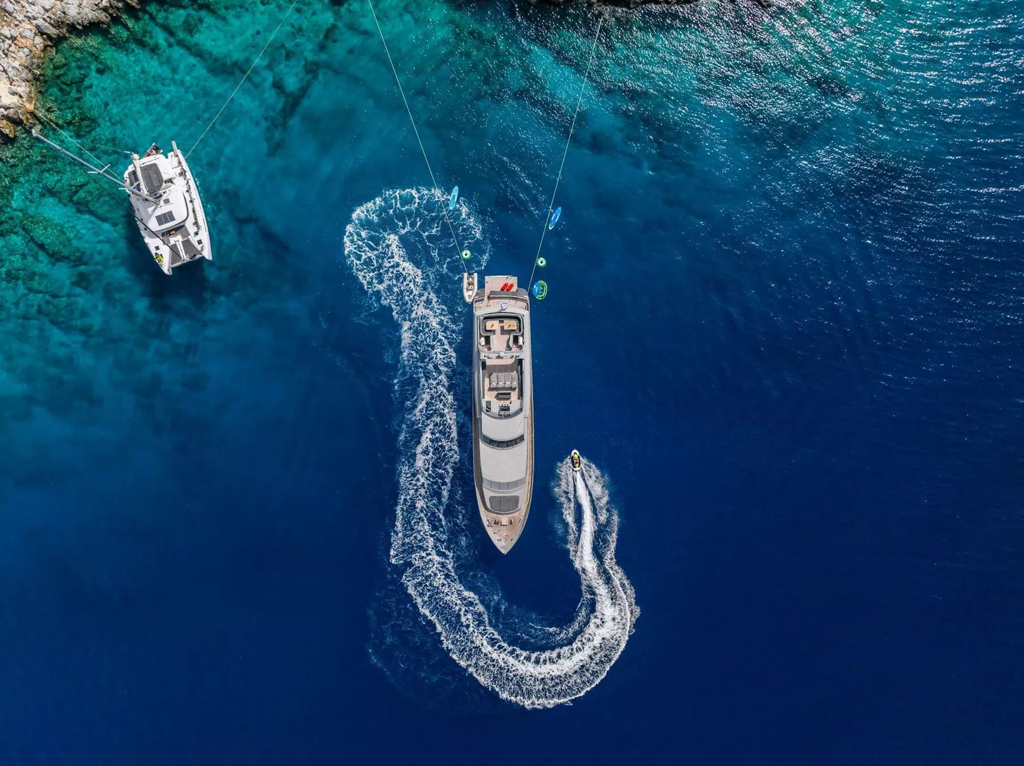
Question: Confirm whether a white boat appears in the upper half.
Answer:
Yes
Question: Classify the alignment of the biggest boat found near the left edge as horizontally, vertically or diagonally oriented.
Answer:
diagonally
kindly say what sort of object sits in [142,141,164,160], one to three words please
boat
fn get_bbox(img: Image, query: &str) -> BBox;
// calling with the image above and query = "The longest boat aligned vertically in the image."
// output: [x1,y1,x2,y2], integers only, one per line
[473,275,534,554]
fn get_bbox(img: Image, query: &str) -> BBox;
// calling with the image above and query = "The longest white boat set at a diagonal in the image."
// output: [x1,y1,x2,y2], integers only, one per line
[25,125,219,275]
